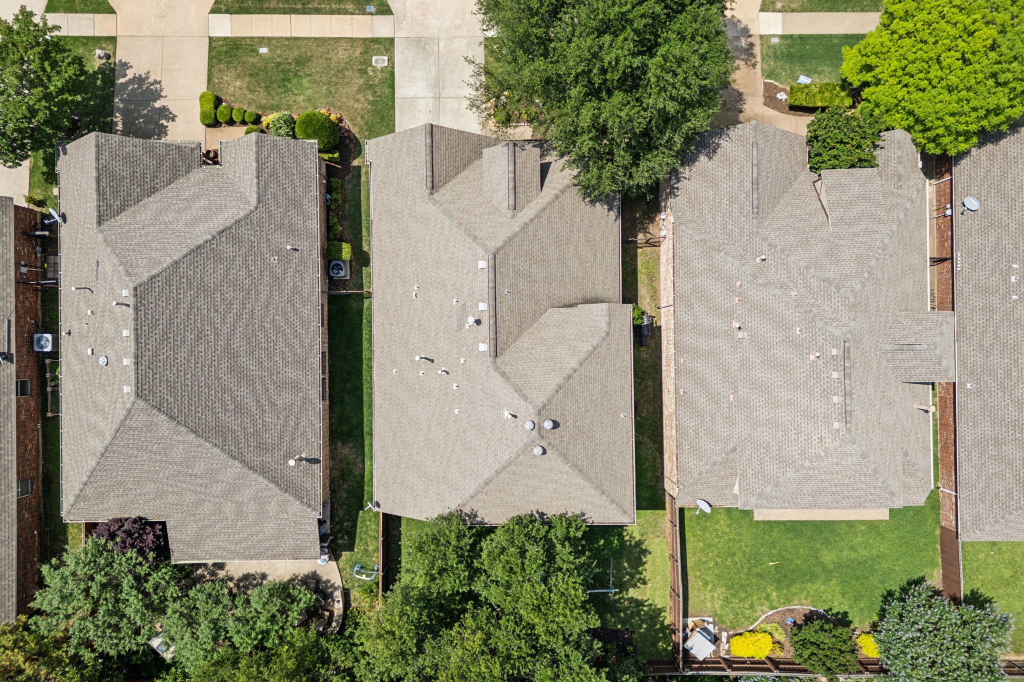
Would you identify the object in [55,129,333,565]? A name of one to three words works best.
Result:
house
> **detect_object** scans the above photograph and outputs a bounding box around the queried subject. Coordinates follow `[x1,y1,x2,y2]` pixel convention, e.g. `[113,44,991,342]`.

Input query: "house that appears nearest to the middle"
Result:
[365,123,638,527]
